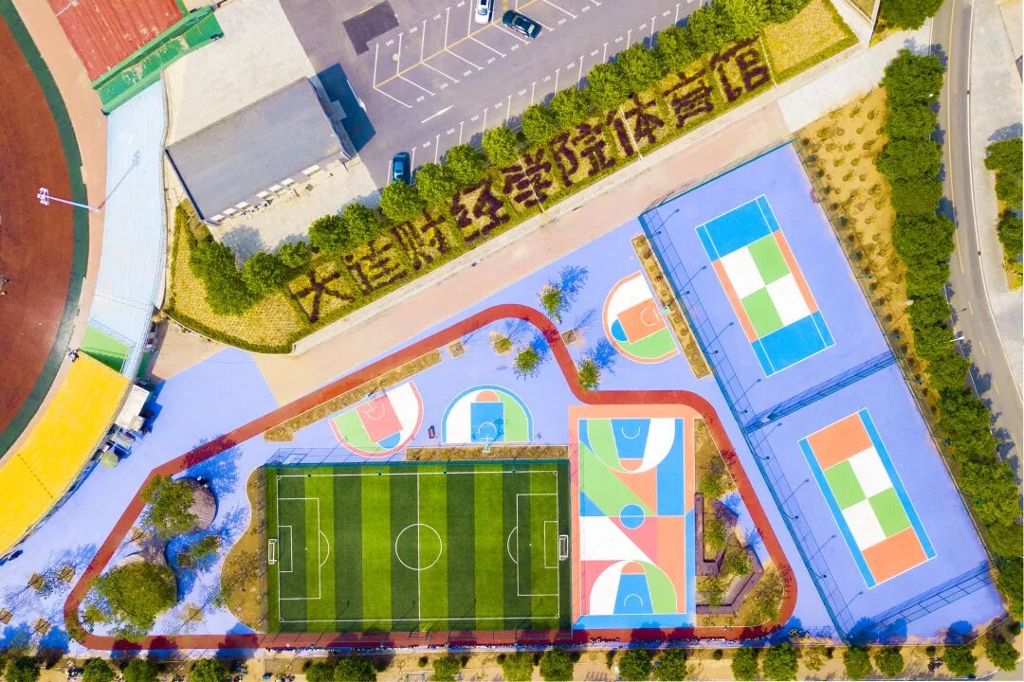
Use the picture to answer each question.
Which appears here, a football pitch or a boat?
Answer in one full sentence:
I can see a football pitch in this picture.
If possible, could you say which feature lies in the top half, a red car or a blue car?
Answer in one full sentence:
You can see a blue car in the top half.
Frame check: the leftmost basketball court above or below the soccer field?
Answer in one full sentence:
The leftmost basketball court is found above the soccer field in the photo.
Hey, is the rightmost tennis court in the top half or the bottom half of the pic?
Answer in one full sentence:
It is in the bottom half that the rightmost tennis court appears.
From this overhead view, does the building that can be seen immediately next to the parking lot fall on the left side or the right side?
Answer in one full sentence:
The building that can be seen immediately next to the parking lot sits on the left side.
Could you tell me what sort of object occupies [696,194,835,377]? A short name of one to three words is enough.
tennis court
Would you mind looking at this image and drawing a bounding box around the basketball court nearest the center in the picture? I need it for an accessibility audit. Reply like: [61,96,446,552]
[441,384,534,443]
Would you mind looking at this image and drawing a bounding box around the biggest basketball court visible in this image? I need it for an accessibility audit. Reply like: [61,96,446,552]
[570,405,696,627]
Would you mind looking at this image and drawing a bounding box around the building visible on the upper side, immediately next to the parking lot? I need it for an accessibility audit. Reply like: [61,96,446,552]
[164,75,352,225]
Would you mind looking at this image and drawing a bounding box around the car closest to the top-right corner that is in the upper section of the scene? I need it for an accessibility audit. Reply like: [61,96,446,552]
[505,10,538,35]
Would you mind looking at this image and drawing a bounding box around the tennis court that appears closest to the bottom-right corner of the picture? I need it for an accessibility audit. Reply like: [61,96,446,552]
[797,408,937,590]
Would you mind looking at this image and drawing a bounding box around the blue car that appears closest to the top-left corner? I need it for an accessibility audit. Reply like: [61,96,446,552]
[391,152,407,184]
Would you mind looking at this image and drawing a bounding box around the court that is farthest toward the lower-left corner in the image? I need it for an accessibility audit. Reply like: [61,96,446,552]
[329,381,422,458]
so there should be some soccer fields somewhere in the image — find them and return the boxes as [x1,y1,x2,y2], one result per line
[266,463,572,633]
